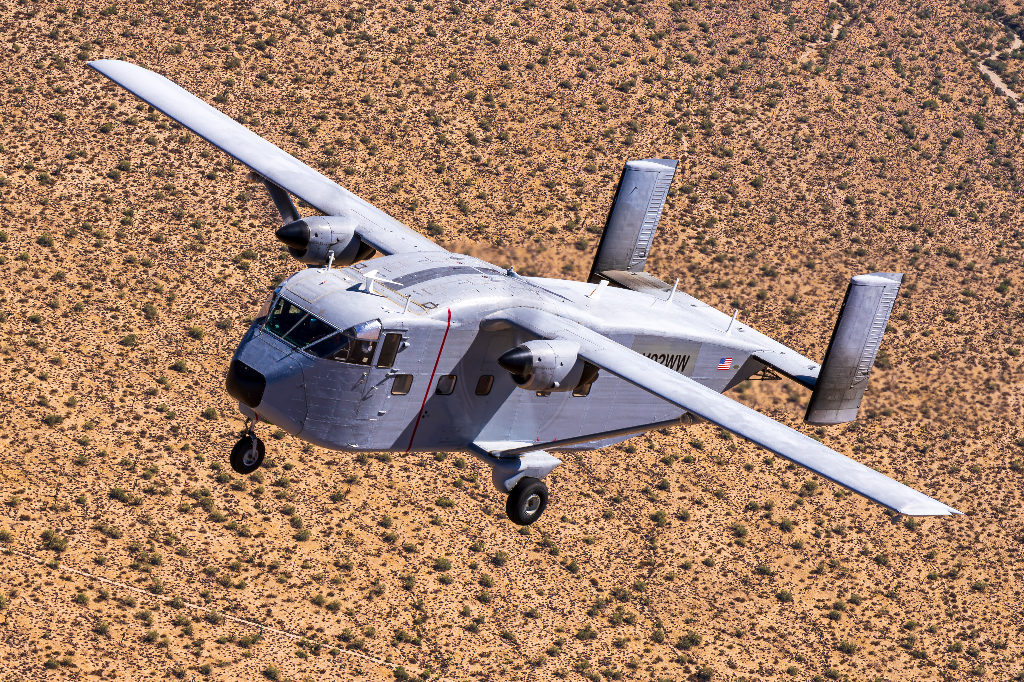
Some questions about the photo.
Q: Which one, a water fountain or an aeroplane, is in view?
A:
aeroplane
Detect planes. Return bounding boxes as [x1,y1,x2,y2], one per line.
[87,58,971,528]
